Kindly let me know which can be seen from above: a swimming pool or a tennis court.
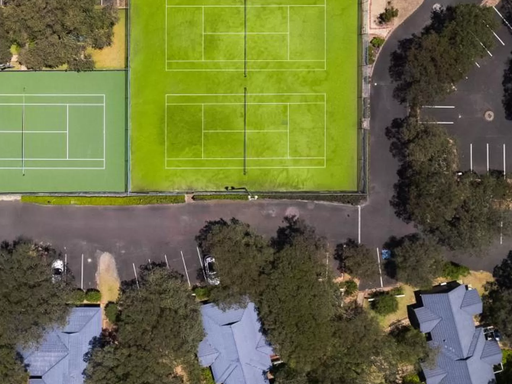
tennis court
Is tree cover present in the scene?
Yes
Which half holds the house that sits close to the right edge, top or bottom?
bottom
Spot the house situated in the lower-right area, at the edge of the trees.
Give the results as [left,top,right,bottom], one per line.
[411,281,502,384]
